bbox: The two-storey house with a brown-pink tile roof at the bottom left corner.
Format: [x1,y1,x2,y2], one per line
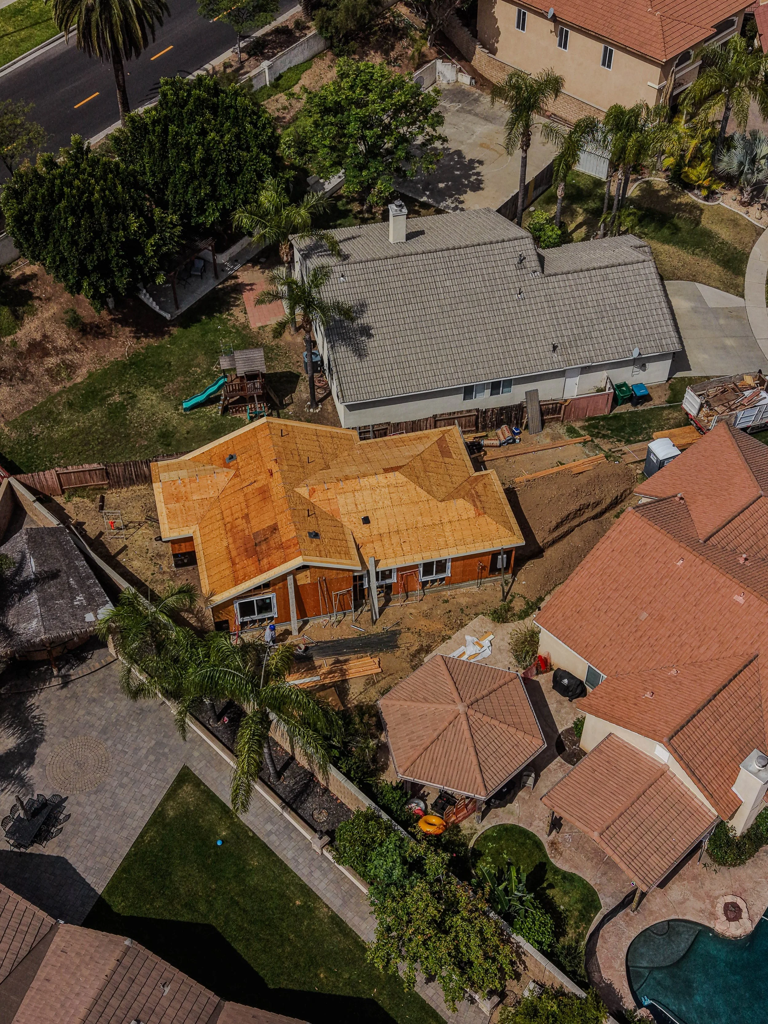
[0,884,282,1024]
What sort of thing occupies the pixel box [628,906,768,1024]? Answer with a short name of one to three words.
swimming pool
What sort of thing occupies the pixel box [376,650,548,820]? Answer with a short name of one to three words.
gazebo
